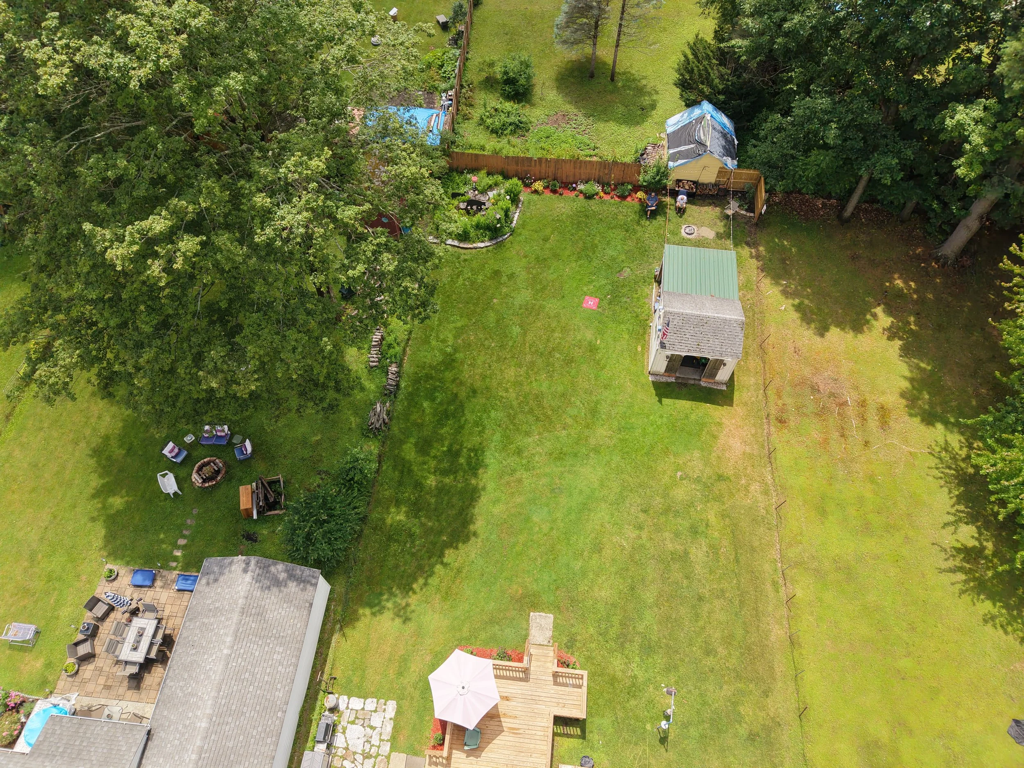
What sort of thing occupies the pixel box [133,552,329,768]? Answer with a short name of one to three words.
house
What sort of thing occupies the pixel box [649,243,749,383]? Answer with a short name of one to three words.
shed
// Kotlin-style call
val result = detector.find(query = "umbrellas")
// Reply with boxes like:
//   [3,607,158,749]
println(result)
[103,592,141,607]
[428,649,500,730]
